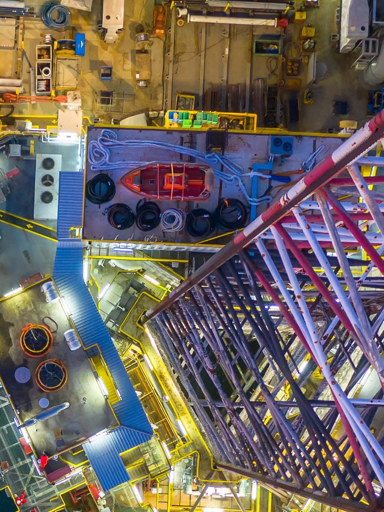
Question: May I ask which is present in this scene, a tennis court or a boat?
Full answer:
The one in the frame is a boat.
